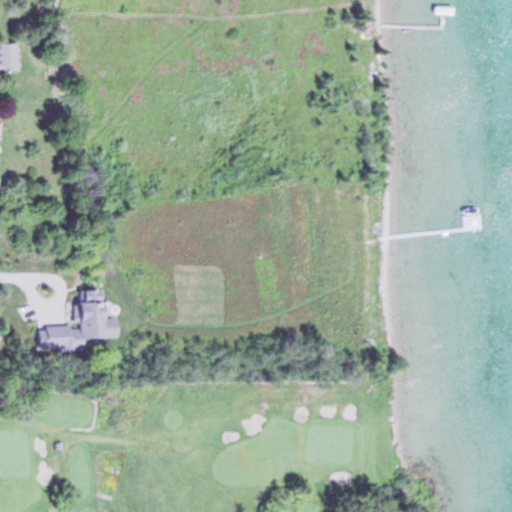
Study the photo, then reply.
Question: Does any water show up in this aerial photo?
Yes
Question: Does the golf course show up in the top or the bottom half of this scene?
bottom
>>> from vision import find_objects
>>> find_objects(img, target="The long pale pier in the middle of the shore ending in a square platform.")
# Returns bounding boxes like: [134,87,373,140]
[366,214,482,245]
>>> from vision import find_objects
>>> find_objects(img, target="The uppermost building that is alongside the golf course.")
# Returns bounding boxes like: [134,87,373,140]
[38,291,122,352]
